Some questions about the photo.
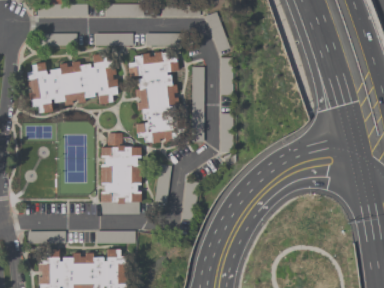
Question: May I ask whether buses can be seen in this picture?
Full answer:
No, I find no bus anywhere in the image.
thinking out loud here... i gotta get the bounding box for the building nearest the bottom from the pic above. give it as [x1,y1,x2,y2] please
[39,248,128,288]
